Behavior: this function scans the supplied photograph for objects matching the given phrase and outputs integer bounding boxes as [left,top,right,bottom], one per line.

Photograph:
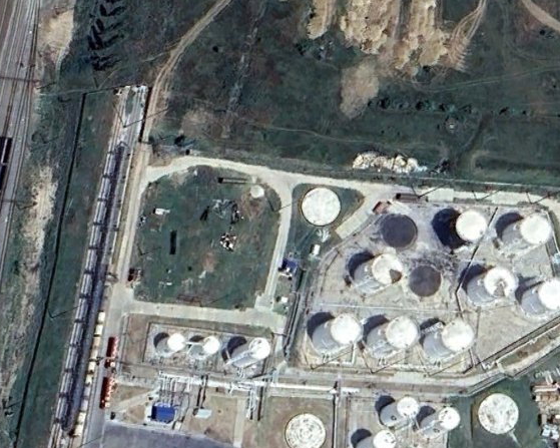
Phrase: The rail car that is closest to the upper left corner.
[0,137,13,165]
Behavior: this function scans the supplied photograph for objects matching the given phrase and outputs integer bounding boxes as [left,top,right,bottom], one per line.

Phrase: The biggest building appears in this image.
[151,406,177,424]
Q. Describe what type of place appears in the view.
industrial area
